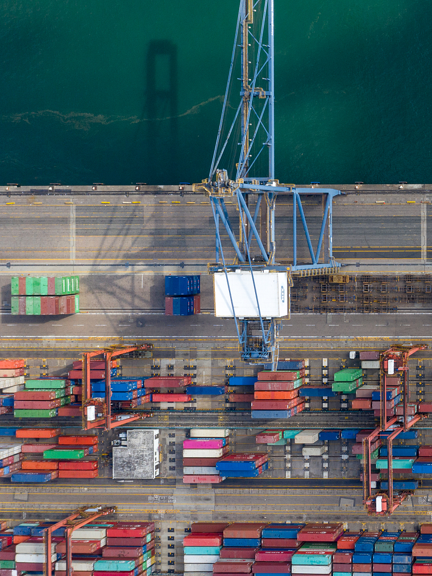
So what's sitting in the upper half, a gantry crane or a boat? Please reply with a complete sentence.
You can see a gantry crane in the upper half.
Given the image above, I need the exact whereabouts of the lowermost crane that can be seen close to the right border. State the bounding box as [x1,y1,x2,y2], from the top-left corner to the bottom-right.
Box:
[363,423,417,518]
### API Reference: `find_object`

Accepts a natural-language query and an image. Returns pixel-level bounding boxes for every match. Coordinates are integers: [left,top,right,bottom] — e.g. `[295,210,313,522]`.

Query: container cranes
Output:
[40,507,117,576]
[363,423,417,518]
[81,344,156,437]
[189,0,351,371]
[379,344,432,438]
